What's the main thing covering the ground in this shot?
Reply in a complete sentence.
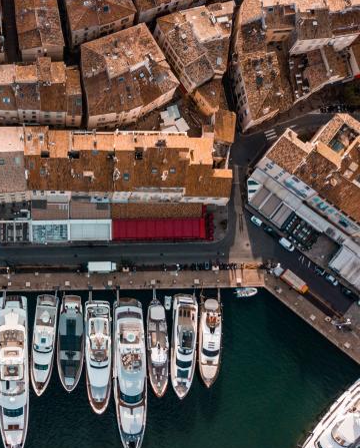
For the most part, this view shows buildings.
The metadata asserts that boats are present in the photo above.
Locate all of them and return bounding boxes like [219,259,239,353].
[56,290,85,399]
[164,294,171,310]
[0,291,29,448]
[168,287,200,406]
[142,292,169,403]
[302,381,360,448]
[31,288,58,404]
[112,292,149,448]
[233,288,257,298]
[82,292,114,422]
[194,290,225,395]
